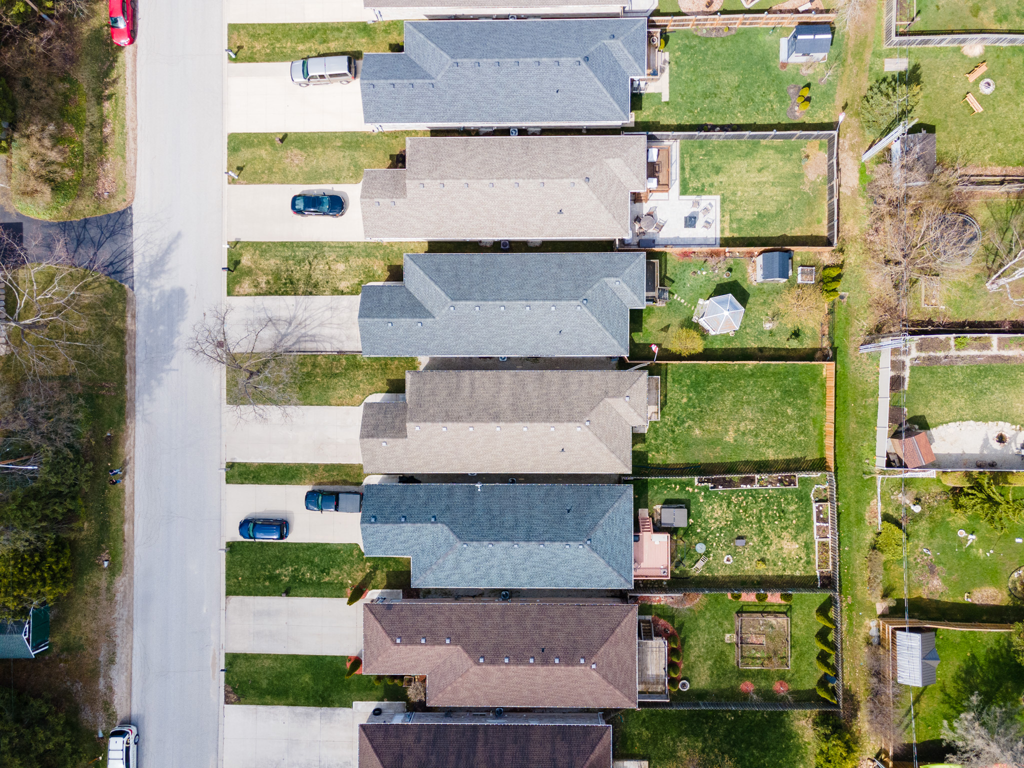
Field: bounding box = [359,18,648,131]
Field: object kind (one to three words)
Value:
house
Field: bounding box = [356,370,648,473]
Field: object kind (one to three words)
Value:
house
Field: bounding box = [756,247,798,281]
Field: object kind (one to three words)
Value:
shed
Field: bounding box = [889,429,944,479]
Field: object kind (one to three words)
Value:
shed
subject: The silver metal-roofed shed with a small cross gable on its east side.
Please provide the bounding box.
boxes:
[893,629,946,694]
